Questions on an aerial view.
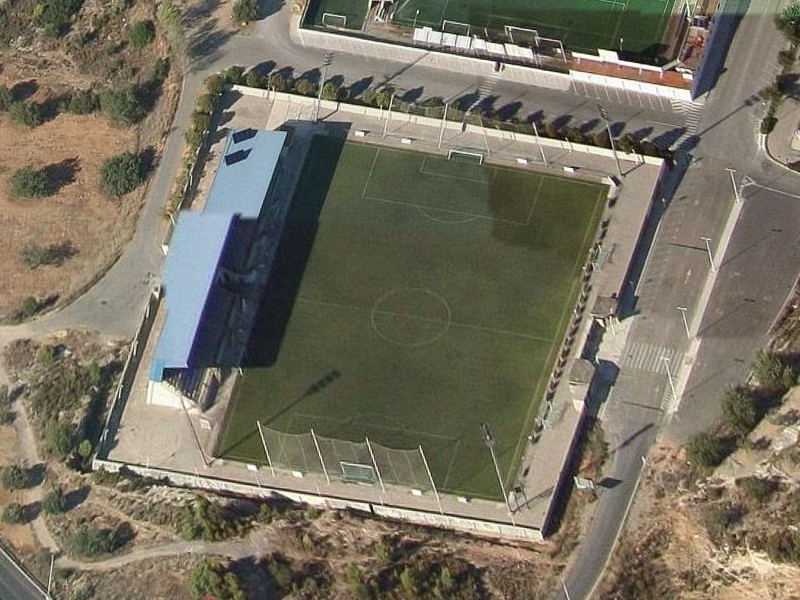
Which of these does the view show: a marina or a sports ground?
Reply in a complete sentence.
This looks like a sports ground.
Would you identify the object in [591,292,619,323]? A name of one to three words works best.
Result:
shed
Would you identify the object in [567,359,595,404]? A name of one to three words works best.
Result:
shed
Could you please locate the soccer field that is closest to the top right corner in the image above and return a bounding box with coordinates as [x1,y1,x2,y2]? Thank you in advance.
[393,0,688,70]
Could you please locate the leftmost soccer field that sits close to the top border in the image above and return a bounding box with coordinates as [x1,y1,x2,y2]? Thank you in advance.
[303,0,368,33]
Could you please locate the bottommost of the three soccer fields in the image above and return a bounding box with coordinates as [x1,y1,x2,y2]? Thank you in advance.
[213,135,616,503]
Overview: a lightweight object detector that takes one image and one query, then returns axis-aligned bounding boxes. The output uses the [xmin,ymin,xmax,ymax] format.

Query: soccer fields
[213,135,616,503]
[303,0,368,33]
[393,0,688,70]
